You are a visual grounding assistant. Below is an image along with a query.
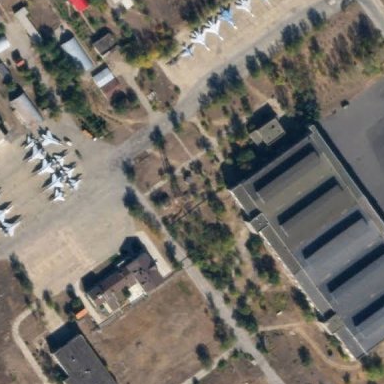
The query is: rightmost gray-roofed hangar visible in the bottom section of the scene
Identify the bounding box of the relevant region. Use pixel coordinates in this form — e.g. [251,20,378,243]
[228,124,384,360]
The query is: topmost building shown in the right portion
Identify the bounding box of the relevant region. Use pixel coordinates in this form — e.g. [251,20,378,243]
[248,118,286,148]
